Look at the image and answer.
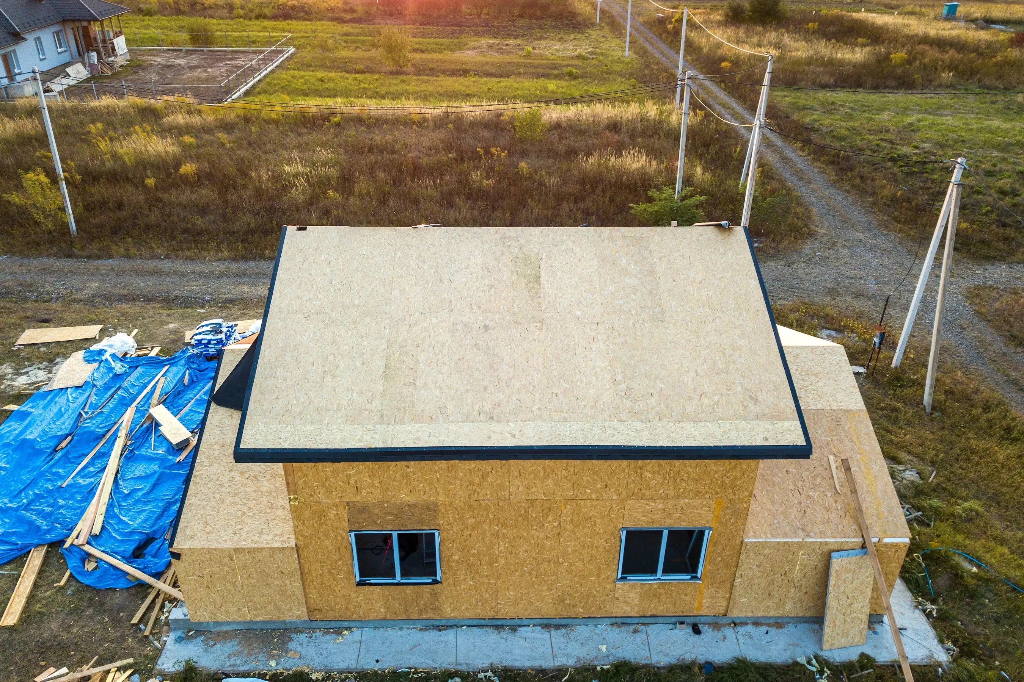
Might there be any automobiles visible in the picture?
No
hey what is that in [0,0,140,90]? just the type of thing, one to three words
house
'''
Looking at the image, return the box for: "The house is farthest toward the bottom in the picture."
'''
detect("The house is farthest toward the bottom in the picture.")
[167,226,911,635]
